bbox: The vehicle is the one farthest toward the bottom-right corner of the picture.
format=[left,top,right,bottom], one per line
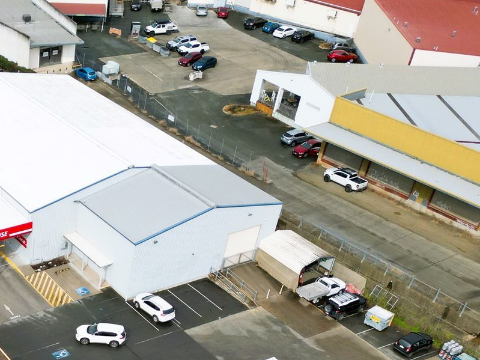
[394,328,437,355]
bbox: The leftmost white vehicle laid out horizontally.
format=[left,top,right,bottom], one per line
[77,323,126,348]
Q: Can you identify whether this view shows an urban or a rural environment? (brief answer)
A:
urban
